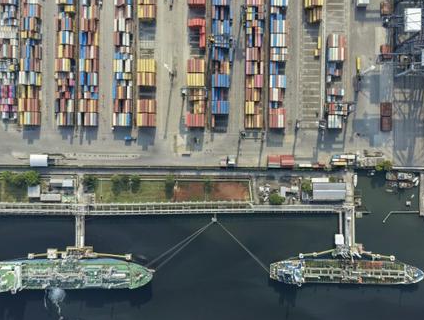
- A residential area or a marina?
marina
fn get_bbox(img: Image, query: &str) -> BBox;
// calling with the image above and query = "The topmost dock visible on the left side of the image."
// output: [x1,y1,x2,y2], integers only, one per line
[0,201,264,216]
